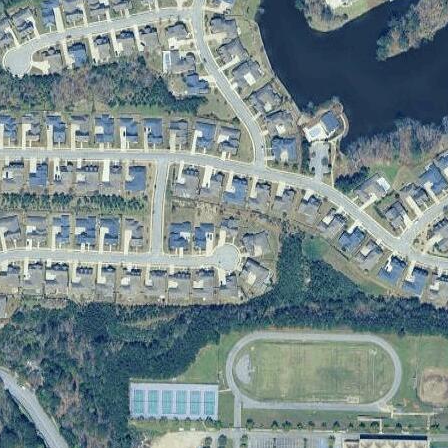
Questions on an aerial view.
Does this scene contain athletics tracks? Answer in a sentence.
Yes, the frame does contain an athletics track.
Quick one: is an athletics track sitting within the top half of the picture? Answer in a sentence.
No, no athletics track appears within the top half of the picture.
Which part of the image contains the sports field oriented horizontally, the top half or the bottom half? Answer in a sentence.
The sports field oriented horizontally sits in the bottom half of the picture.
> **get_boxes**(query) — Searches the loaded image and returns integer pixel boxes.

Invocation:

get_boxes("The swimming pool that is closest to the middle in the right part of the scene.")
[305,124,326,142]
